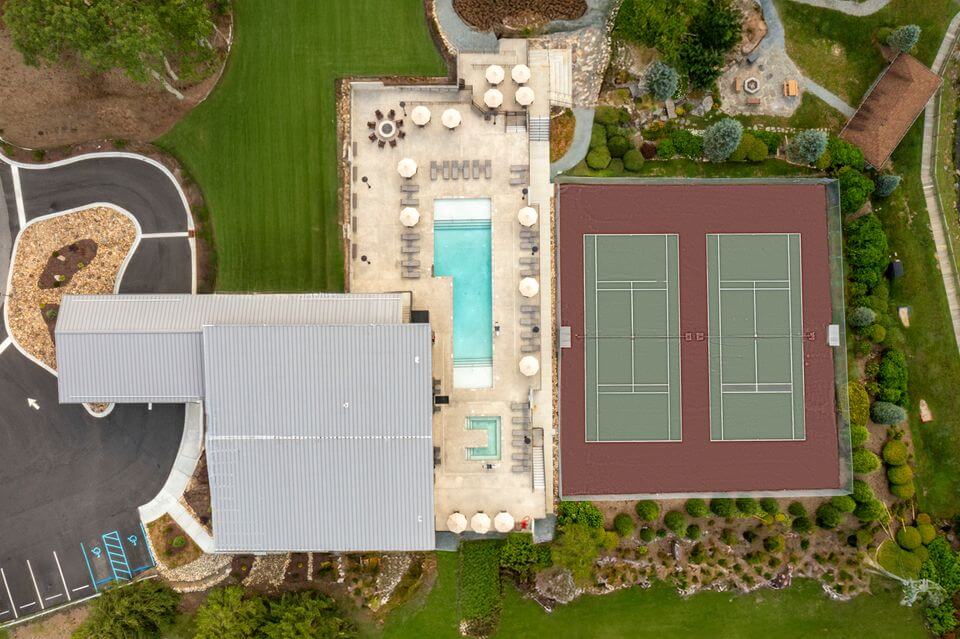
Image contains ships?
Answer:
No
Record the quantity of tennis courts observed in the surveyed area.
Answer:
2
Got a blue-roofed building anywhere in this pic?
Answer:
No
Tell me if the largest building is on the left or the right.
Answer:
left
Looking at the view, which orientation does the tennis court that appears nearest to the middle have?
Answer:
vertically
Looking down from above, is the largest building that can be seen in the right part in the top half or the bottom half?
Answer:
top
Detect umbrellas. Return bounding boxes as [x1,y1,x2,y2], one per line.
[411,106,431,126]
[399,207,420,227]
[494,512,514,531]
[515,86,535,107]
[518,206,537,226]
[483,88,503,109]
[519,277,539,297]
[398,157,417,178]
[511,64,531,84]
[519,356,539,376]
[486,65,504,84]
[442,110,460,128]
[447,513,467,533]
[471,513,490,533]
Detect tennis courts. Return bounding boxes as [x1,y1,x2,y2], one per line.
[584,234,682,441]
[706,234,805,440]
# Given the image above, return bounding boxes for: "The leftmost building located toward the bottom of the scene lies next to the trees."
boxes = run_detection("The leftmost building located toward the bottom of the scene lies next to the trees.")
[48,290,436,553]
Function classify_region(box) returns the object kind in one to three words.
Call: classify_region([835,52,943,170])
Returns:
building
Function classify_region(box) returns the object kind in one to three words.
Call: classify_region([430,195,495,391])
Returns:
swimming pool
